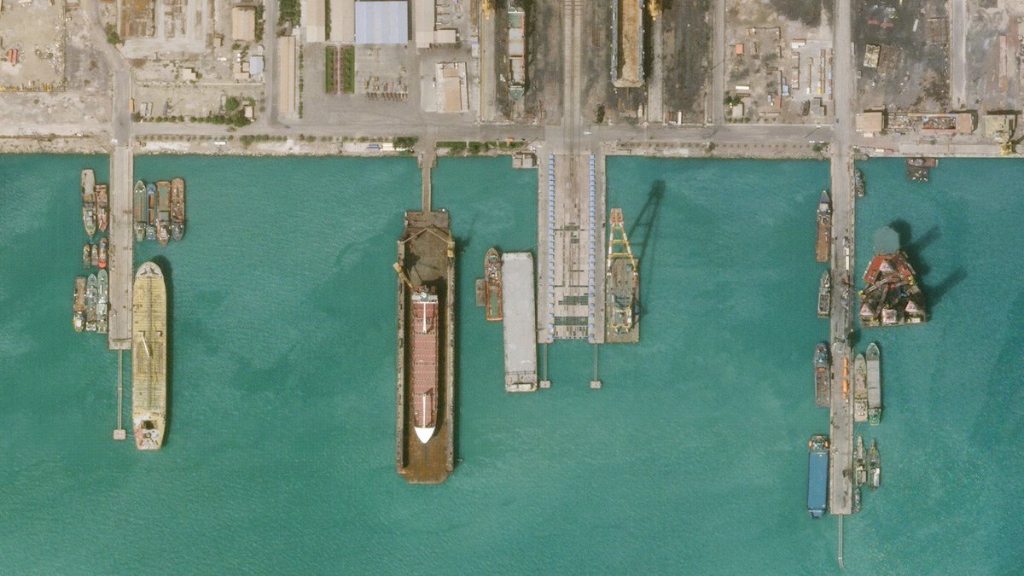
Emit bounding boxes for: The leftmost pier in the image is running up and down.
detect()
[108,147,134,350]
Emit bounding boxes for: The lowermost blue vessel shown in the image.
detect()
[808,435,829,518]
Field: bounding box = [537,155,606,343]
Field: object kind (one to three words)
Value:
pier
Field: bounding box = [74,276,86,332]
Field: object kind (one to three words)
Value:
ship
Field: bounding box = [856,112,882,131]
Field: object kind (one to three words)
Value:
building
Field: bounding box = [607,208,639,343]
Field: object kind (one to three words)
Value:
crane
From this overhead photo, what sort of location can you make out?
port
